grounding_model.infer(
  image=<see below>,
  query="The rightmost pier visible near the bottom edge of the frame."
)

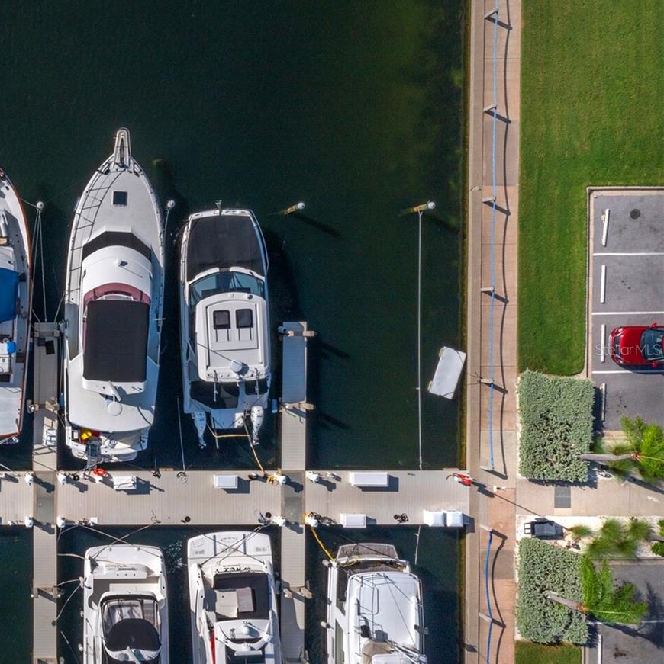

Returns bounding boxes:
[279,526,305,659]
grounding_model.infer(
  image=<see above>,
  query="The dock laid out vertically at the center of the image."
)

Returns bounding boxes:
[279,322,305,471]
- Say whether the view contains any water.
Yes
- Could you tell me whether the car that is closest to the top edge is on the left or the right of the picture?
right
